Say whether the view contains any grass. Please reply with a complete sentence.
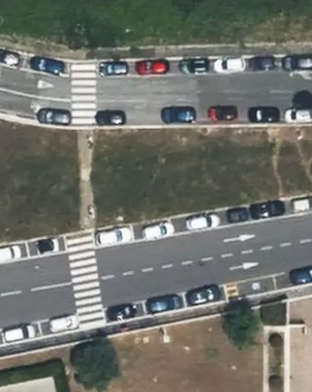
Yes, there's grass in this view.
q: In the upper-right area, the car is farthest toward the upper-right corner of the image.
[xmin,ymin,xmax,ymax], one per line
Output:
[282,54,312,71]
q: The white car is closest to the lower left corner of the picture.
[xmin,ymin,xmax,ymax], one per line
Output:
[3,323,35,343]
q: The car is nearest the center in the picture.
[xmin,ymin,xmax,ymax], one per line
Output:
[142,220,173,239]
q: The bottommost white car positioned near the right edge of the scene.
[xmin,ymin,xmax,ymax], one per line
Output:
[290,194,312,213]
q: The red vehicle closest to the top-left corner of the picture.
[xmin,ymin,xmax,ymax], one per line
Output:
[136,59,169,76]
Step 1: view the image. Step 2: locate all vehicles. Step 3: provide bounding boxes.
[95,109,124,126]
[99,60,127,77]
[209,105,237,122]
[289,266,312,285]
[96,226,131,245]
[136,59,169,76]
[142,220,173,239]
[186,286,221,304]
[186,212,219,230]
[179,57,209,73]
[106,303,137,320]
[248,105,279,123]
[162,105,196,124]
[3,323,35,343]
[214,56,245,74]
[35,236,58,253]
[290,194,312,213]
[225,205,249,223]
[29,55,66,75]
[285,107,312,123]
[282,54,312,71]
[248,55,275,71]
[48,314,78,333]
[146,294,183,313]
[38,107,71,125]
[0,48,20,67]
[0,243,21,261]
[248,199,285,219]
